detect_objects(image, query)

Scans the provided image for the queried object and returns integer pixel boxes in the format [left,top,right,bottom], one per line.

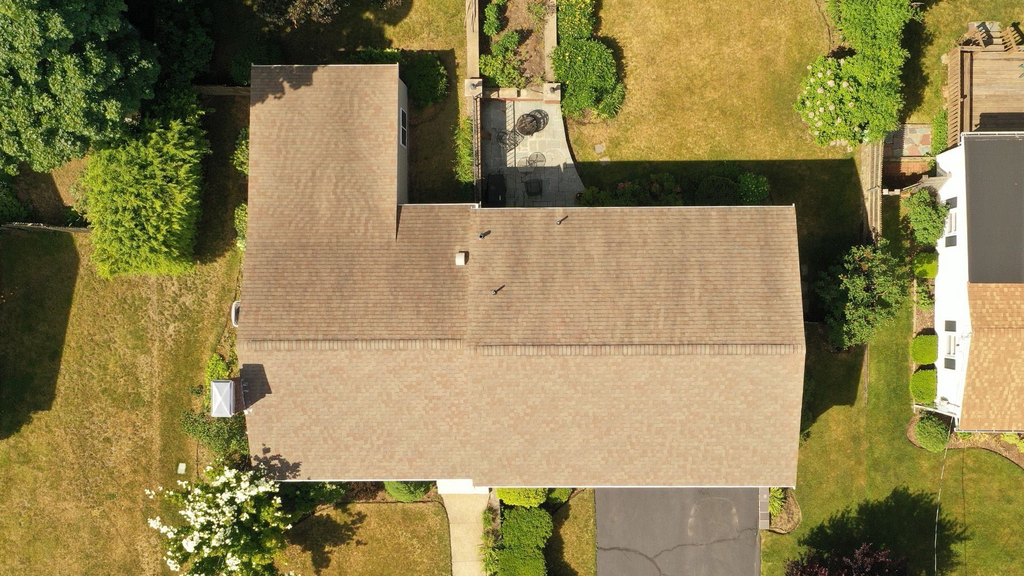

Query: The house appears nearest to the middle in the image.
[211,65,805,494]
